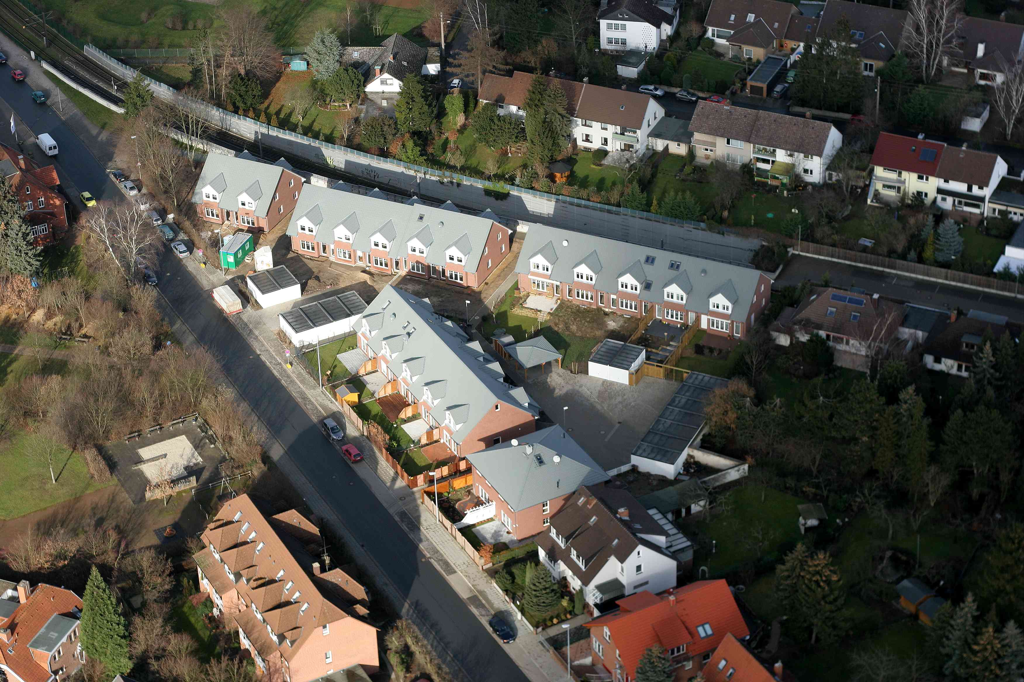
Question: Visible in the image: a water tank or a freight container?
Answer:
freight container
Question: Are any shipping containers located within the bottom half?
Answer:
No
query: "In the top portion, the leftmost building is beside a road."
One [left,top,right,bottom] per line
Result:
[0,157,67,245]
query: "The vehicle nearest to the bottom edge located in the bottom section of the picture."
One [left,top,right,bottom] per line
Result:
[488,618,517,646]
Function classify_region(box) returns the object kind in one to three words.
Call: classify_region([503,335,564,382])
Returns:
building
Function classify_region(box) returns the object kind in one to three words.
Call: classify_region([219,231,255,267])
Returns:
shipping container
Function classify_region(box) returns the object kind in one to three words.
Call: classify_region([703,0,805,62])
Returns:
house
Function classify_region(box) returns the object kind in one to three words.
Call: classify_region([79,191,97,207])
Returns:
car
